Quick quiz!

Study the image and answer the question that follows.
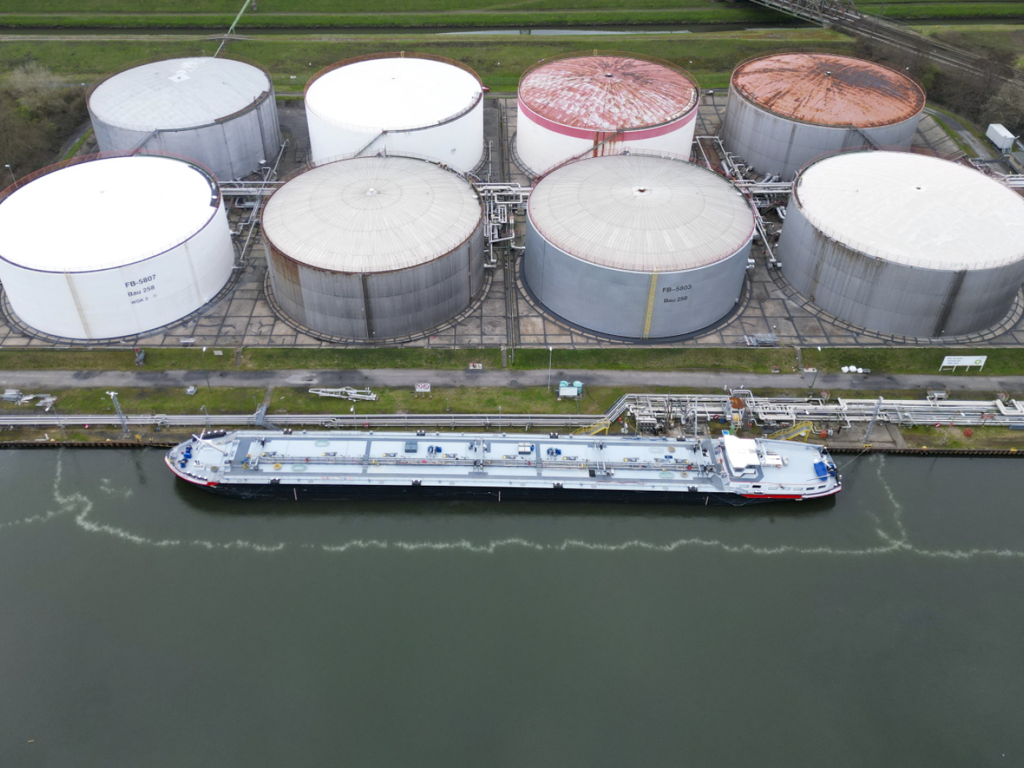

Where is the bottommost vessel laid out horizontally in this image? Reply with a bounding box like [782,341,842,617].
[165,429,844,510]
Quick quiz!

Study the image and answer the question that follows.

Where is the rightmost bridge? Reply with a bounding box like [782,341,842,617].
[748,0,865,32]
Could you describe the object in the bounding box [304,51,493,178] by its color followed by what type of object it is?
white storage tank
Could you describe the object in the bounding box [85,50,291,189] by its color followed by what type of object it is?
white storage tank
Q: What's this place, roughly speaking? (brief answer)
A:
industrial area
